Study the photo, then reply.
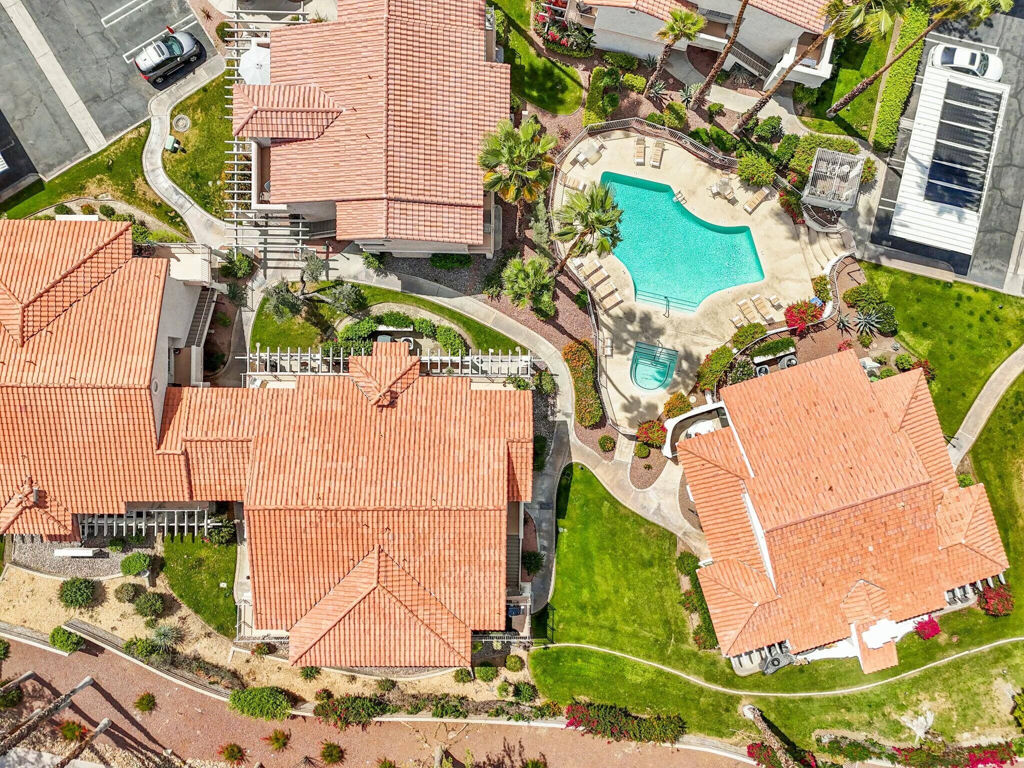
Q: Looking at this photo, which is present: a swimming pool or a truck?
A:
swimming pool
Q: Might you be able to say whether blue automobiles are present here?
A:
No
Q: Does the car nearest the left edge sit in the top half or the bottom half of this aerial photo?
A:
top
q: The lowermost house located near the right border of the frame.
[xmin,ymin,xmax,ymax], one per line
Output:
[655,349,1012,673]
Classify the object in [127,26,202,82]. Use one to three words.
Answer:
car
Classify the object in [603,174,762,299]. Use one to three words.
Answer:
swimming pool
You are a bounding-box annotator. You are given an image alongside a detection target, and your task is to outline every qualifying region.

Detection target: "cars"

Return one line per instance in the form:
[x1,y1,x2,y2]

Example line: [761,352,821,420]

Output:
[920,42,1000,81]
[127,26,202,82]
